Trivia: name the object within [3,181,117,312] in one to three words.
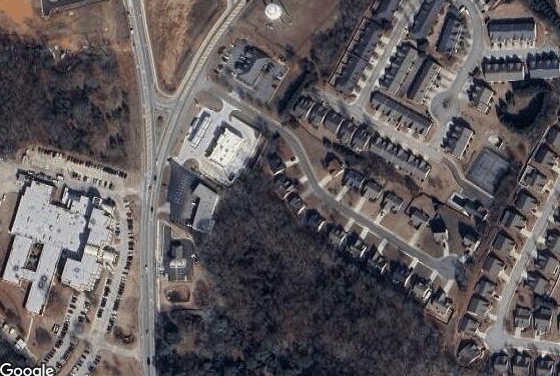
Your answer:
building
